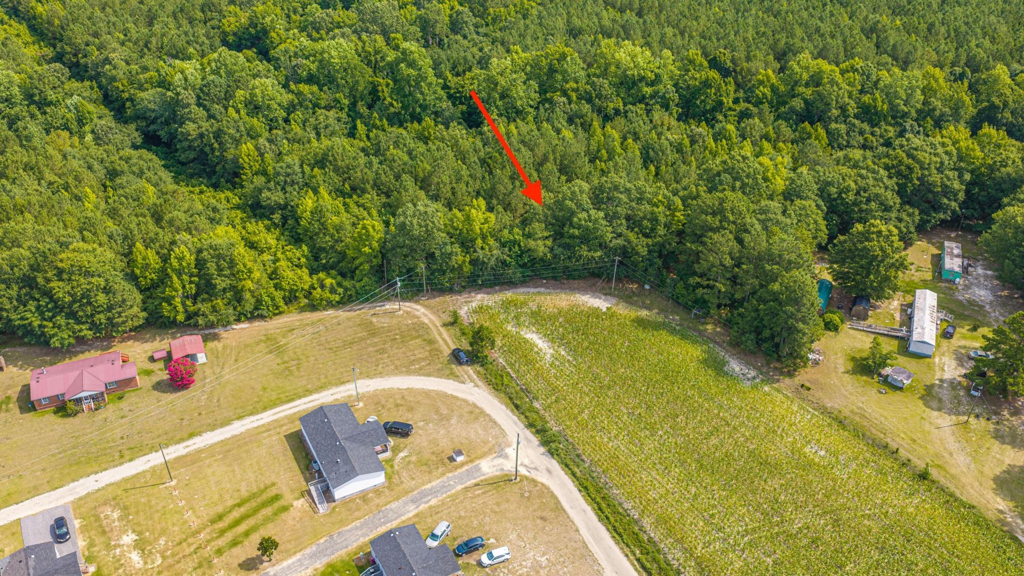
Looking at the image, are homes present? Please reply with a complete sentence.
Yes, the image includes a home.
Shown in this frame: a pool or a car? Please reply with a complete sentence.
It is a car that can be seen here.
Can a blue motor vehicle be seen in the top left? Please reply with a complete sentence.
No, the scene shows no blue motor vehicle in the top left.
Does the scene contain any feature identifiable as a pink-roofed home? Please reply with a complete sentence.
Yes, there's a pink-roofed home down there.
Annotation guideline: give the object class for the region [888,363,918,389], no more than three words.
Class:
shed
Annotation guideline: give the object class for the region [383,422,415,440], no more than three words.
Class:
car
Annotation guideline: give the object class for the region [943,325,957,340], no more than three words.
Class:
car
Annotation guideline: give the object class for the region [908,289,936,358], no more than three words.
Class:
house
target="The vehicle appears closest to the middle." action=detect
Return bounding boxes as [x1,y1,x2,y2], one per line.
[451,348,470,365]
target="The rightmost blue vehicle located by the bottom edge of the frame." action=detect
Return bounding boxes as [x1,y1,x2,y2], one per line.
[453,535,487,559]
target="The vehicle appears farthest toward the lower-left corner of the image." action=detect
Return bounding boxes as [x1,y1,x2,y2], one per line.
[52,515,70,543]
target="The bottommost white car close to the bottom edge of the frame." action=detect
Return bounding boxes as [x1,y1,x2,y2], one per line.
[478,544,513,569]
